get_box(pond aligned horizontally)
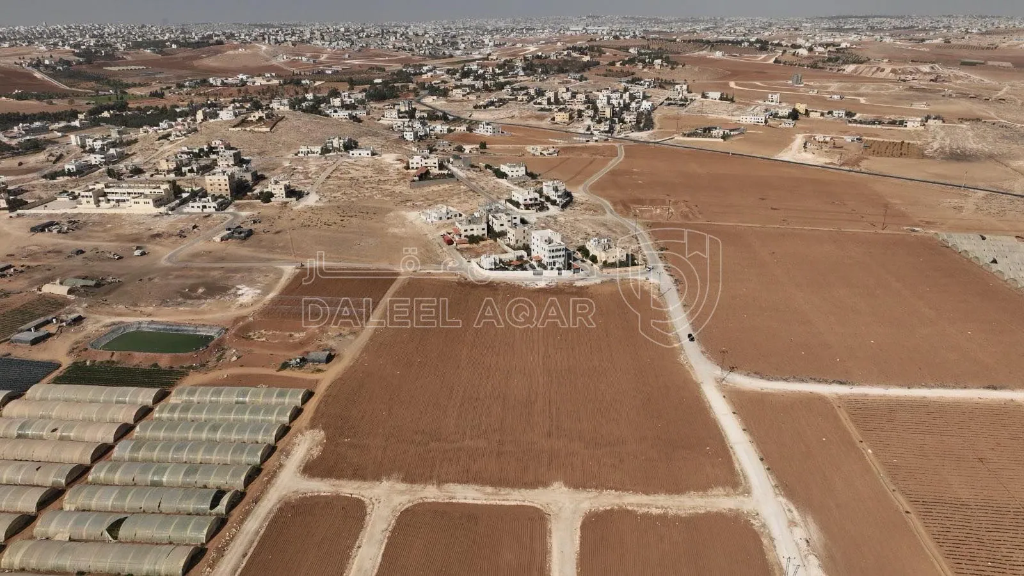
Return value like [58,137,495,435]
[80,323,235,360]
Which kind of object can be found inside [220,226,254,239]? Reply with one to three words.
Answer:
building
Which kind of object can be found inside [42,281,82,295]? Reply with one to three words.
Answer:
shed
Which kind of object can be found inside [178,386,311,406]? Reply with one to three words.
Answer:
greenhouse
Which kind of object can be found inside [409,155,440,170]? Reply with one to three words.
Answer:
house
